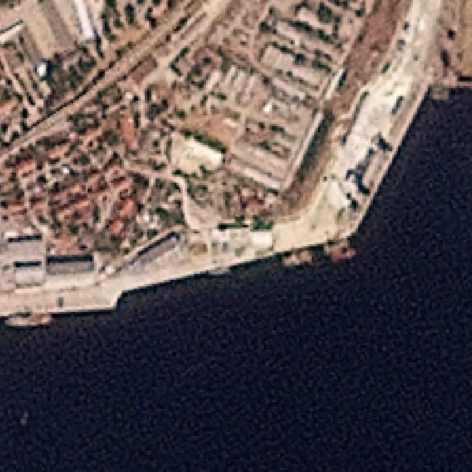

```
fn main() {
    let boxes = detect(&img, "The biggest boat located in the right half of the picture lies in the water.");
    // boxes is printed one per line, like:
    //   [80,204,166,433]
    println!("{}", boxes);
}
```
[324,241,355,257]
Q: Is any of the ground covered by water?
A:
Yes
